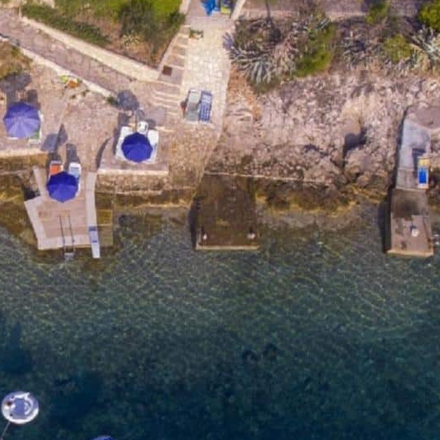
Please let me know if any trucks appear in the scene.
No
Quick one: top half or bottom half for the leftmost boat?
bottom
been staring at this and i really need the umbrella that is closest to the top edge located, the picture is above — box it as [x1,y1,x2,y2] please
[197,0,221,25]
